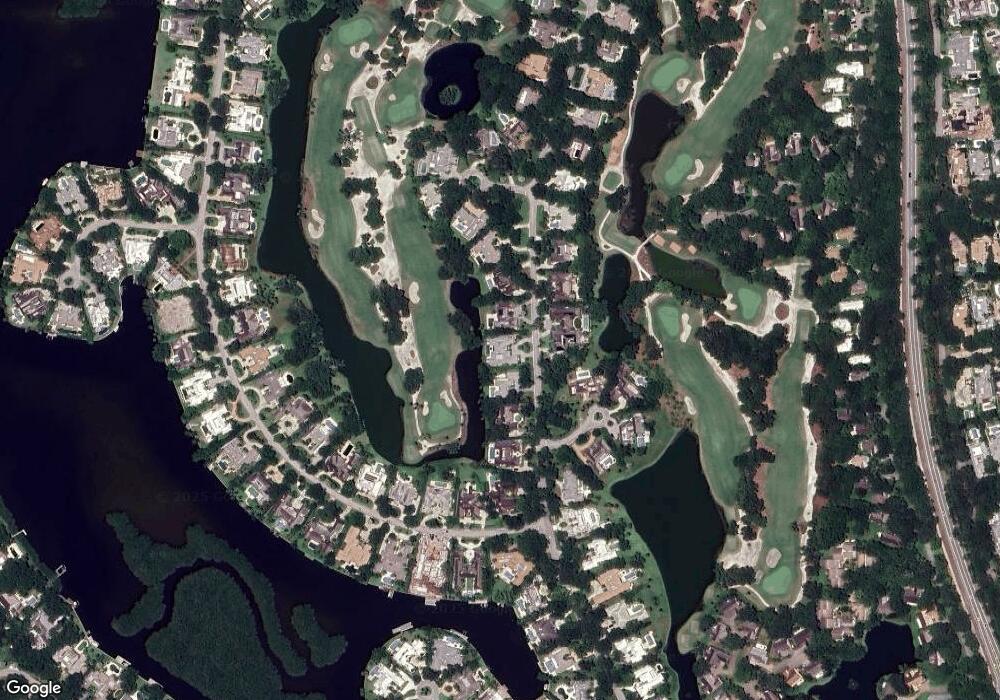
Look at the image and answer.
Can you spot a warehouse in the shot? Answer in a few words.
No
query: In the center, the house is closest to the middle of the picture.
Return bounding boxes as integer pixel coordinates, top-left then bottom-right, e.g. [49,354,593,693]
[481,332,521,366]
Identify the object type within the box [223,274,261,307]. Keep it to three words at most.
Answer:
house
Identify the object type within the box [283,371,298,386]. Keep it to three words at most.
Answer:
swimming pool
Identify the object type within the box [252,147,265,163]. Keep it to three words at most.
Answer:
swimming pool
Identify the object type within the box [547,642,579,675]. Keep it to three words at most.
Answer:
house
